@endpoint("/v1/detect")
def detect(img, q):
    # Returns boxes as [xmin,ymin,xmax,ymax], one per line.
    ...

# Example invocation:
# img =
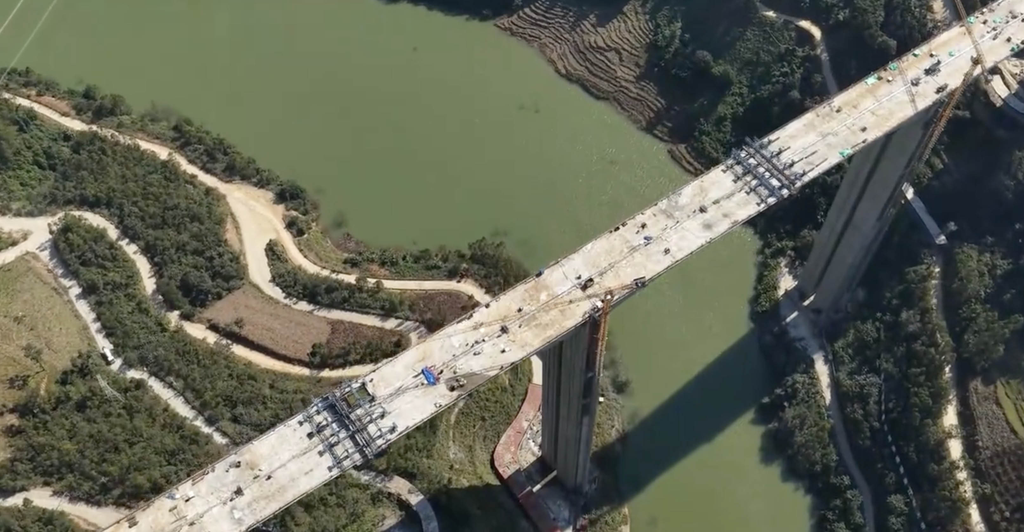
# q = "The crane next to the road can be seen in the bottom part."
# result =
[435,283,650,397]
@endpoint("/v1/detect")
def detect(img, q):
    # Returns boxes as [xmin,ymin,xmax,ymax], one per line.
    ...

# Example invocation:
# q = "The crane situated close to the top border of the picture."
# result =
[895,0,987,177]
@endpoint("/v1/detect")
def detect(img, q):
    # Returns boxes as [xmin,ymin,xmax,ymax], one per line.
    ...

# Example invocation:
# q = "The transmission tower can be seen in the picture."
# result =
[95,373,127,400]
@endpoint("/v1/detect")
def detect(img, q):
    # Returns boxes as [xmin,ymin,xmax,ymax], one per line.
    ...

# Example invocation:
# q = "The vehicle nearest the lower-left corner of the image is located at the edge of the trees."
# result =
[100,345,116,362]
